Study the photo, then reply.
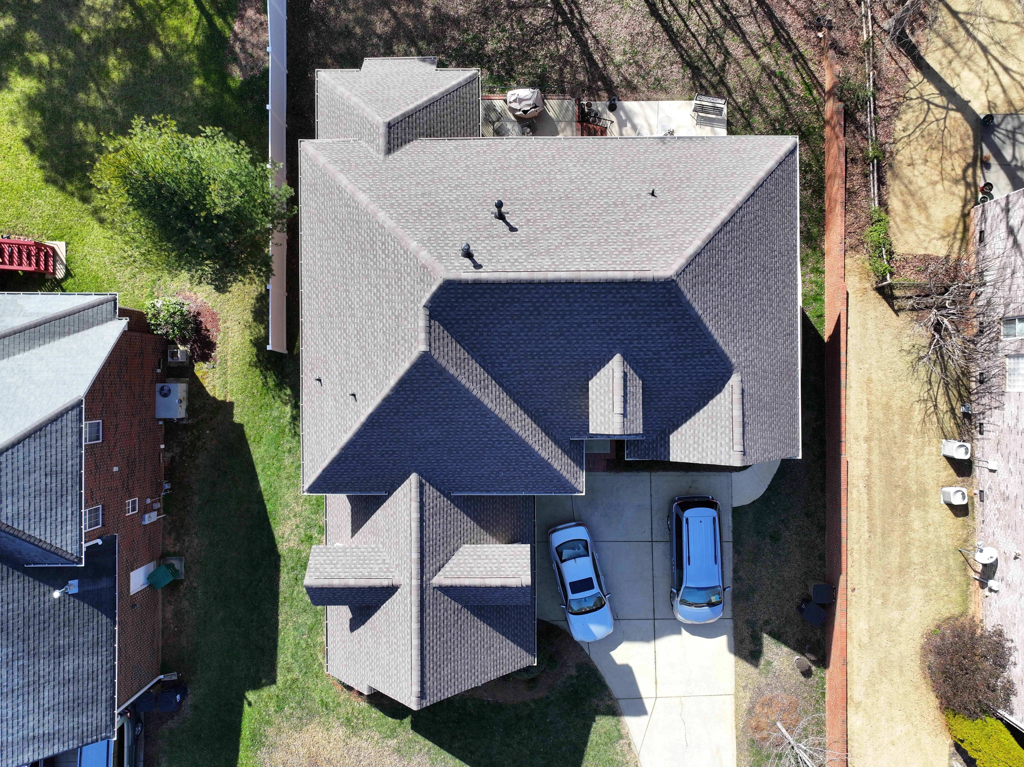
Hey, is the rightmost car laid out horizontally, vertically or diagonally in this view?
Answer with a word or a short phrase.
vertically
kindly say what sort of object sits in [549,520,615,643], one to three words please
car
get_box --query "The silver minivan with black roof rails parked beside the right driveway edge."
[667,496,734,624]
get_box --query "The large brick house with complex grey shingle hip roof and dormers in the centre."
[296,54,804,710]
